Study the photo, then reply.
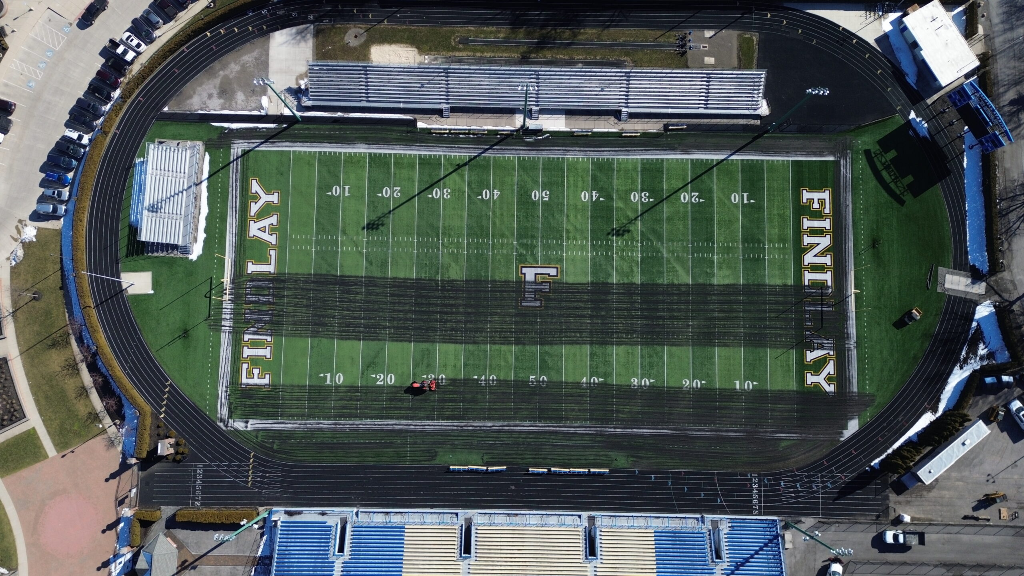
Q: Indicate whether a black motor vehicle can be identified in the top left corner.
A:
Yes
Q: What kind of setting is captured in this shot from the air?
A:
sports ground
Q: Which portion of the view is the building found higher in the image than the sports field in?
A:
top right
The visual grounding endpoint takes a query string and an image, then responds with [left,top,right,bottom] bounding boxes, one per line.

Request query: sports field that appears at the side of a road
[119,115,953,472]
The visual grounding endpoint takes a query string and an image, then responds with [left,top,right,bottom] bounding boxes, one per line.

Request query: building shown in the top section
[896,0,981,91]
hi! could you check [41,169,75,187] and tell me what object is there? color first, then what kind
blue car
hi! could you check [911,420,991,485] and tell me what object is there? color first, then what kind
white trailer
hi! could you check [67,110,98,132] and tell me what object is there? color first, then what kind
black car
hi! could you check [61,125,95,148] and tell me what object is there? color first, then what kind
white car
